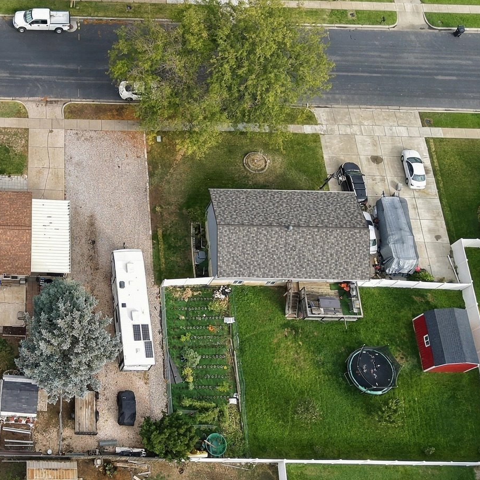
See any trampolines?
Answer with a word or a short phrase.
Yes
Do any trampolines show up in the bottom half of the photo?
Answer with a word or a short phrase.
Yes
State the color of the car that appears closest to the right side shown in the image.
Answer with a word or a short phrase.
white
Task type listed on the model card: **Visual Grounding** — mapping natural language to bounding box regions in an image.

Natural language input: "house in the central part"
[204,188,372,287]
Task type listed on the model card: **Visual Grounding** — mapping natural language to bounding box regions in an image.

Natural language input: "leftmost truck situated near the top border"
[15,9,71,36]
